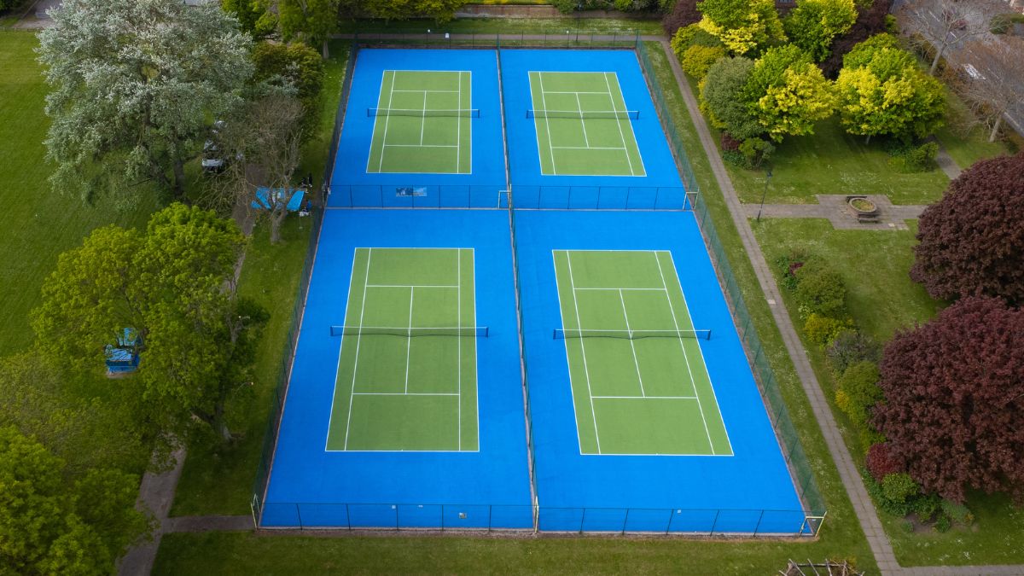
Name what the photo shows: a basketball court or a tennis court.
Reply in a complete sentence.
Of the two, only a tennis court appears.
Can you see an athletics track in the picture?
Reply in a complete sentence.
No, the photo shows no athletics track.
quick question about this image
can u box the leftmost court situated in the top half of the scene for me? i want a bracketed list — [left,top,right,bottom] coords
[327,48,509,207]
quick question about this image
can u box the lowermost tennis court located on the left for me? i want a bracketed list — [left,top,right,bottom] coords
[260,208,534,530]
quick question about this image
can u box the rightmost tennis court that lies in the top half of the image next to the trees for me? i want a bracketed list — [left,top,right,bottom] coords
[501,48,693,208]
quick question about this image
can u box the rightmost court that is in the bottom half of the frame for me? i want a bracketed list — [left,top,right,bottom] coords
[513,209,812,532]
